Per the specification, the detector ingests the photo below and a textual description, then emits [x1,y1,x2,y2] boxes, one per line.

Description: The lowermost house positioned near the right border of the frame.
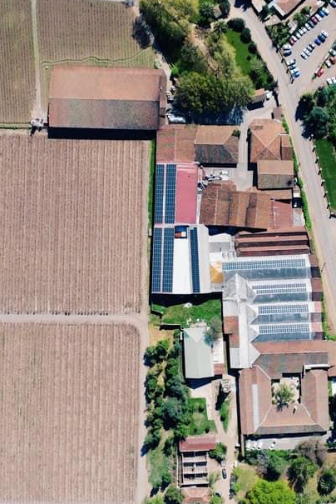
[240,339,336,435]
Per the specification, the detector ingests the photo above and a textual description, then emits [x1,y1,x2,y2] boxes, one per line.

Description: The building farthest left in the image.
[47,66,167,131]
